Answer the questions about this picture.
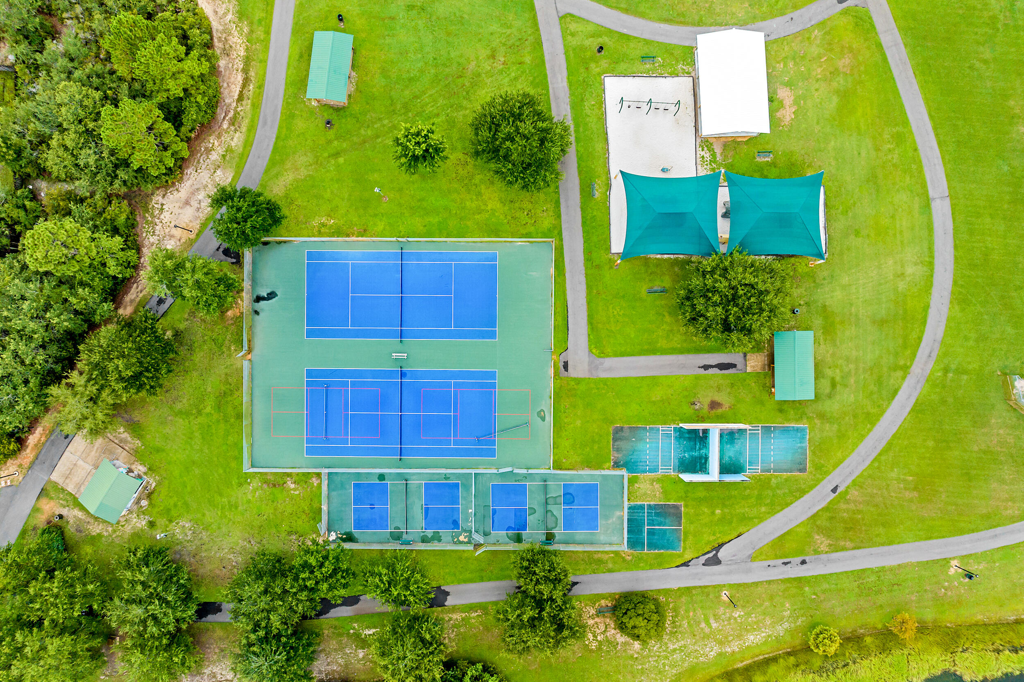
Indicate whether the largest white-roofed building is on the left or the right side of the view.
right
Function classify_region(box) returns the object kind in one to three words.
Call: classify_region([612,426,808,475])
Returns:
sports court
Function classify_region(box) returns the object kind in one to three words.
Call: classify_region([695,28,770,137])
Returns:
building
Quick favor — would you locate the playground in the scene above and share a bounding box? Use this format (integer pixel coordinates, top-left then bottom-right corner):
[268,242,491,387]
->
[604,75,828,255]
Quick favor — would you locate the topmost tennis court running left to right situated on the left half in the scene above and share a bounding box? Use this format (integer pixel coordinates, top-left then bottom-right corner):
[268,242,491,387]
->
[251,241,552,355]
